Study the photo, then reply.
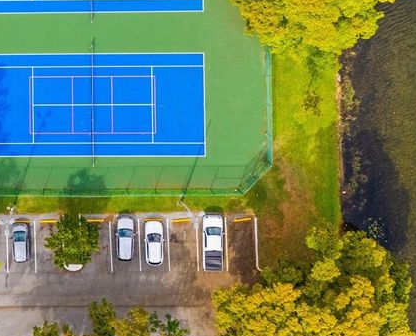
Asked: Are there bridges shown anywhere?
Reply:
No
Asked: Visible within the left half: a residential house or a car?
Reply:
car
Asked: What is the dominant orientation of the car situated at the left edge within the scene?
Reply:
up and down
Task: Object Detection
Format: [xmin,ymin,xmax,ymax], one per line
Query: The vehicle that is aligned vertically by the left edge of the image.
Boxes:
[10,220,31,263]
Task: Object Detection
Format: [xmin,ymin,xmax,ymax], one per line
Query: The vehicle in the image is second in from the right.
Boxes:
[144,219,166,266]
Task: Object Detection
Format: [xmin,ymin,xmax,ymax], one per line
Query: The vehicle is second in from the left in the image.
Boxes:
[115,215,136,262]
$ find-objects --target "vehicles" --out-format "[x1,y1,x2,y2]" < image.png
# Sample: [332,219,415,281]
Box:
[115,215,136,262]
[201,213,225,271]
[10,220,31,263]
[144,219,166,266]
